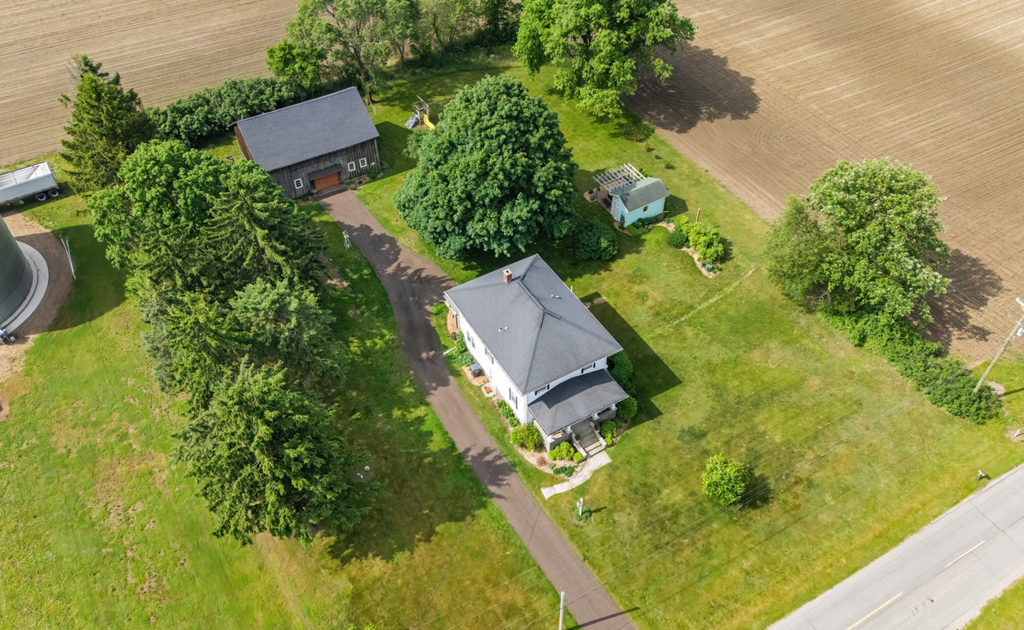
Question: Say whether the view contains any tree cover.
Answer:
Yes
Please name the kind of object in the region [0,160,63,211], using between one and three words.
trailer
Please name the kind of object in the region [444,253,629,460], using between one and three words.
house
